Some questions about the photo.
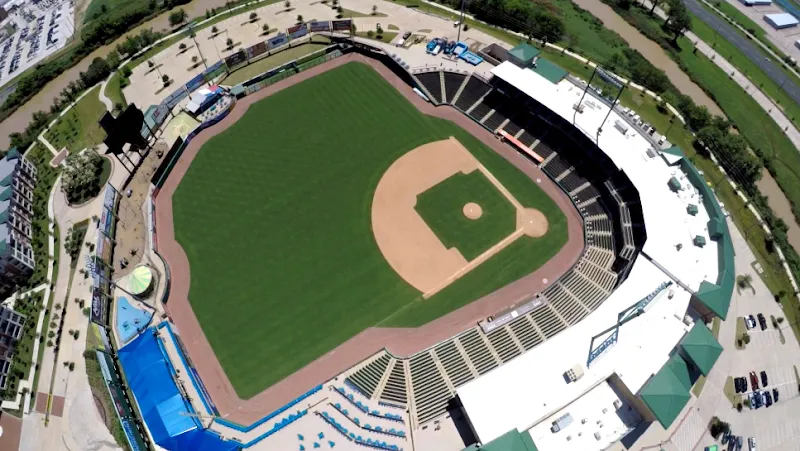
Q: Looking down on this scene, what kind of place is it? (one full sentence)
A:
The area seen from above is a sports ground.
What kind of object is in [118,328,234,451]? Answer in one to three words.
tent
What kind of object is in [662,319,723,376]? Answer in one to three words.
building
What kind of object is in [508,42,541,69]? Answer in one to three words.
shed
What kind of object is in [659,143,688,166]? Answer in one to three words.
building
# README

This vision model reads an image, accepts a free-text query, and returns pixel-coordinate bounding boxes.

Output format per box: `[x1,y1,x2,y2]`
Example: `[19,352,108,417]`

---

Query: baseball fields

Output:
[155,52,585,424]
